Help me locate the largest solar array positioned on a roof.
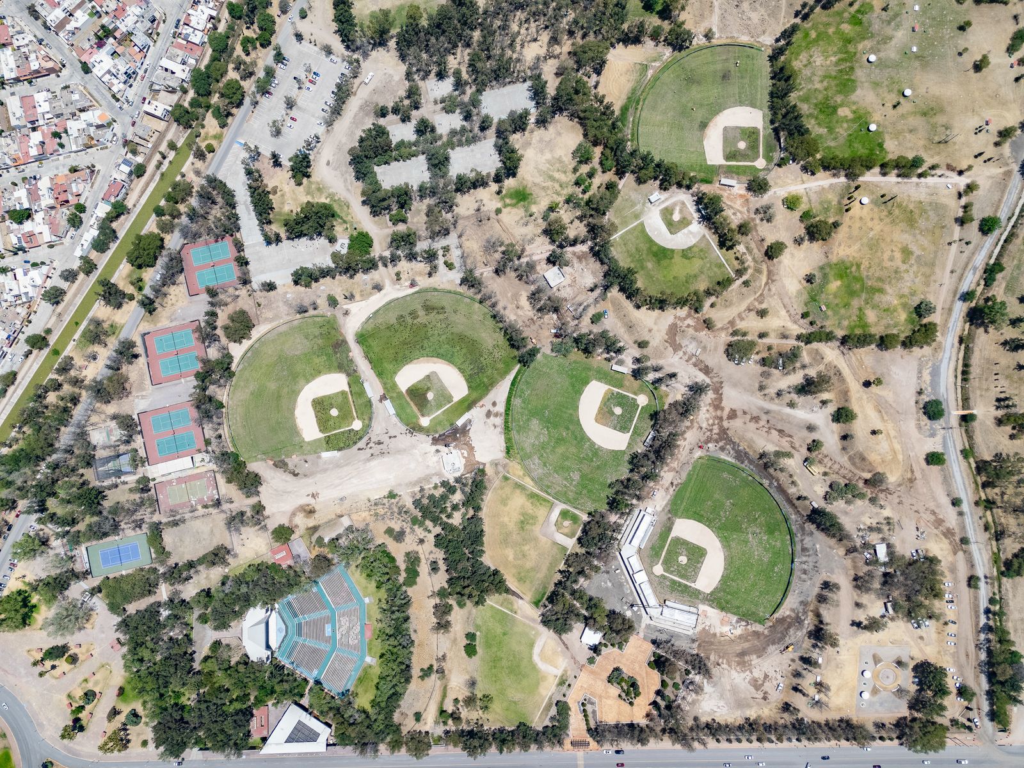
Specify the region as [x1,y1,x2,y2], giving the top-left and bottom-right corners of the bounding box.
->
[285,720,321,743]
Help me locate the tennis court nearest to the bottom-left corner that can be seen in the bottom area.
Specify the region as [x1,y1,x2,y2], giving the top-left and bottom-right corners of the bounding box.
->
[84,533,151,579]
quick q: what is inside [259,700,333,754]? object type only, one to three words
building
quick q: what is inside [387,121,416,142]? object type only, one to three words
sports court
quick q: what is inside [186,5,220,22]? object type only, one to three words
house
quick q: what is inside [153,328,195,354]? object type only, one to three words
tennis court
